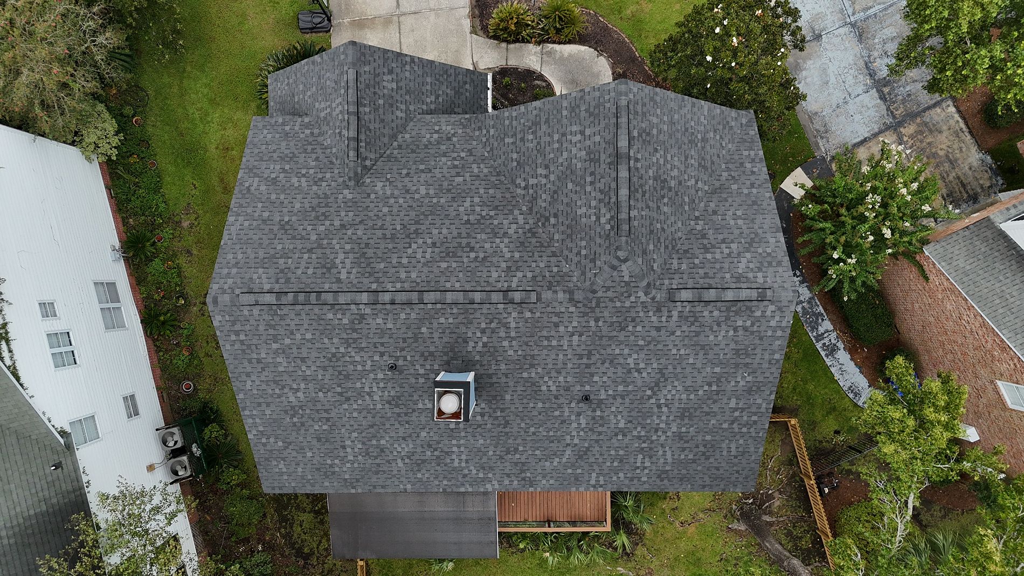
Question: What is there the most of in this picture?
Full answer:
What you mostly see from above here is buildings.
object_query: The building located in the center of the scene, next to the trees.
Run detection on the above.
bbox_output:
[207,41,797,558]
